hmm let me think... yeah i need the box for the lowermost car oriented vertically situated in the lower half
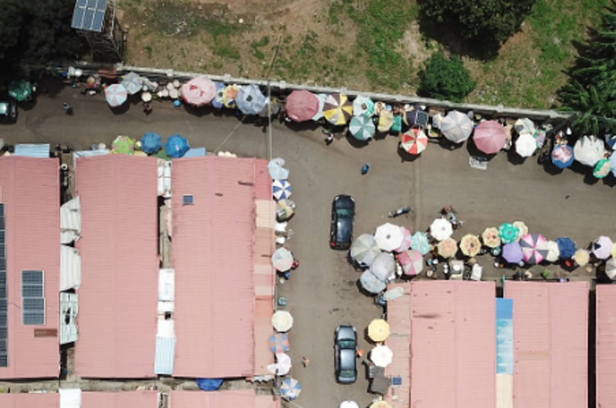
[332,324,361,384]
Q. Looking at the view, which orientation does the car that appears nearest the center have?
up and down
